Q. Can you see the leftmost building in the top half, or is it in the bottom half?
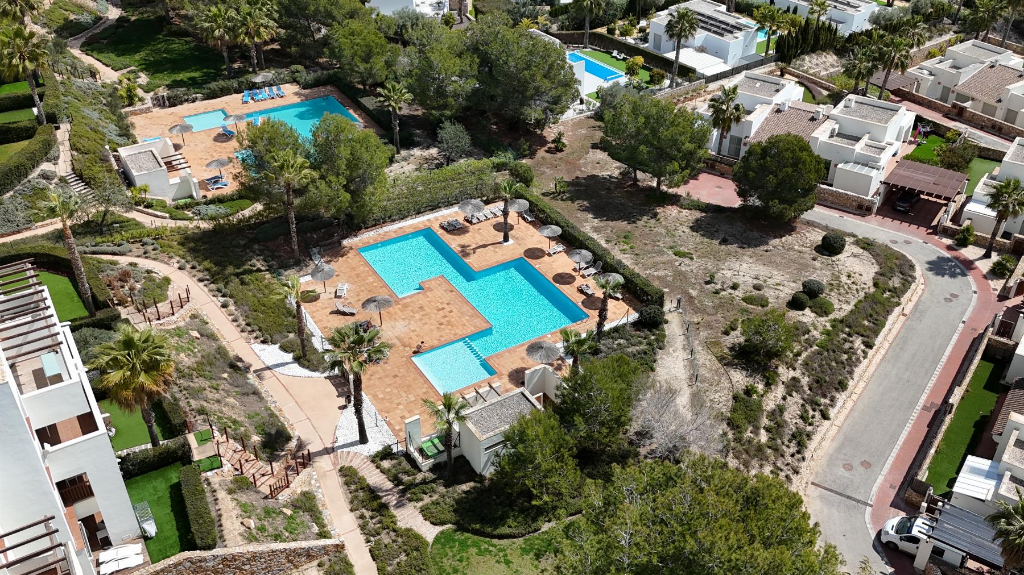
bottom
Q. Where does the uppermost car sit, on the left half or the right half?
right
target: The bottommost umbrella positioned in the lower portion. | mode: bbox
[523,334,560,365]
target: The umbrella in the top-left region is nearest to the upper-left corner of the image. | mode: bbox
[166,121,192,144]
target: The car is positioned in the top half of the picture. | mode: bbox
[890,188,922,211]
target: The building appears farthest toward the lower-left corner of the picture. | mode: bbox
[0,256,143,575]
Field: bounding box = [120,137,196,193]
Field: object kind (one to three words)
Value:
building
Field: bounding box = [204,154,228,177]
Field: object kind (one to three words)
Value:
umbrella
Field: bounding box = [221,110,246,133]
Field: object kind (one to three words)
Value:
umbrella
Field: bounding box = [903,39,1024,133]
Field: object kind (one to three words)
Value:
house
